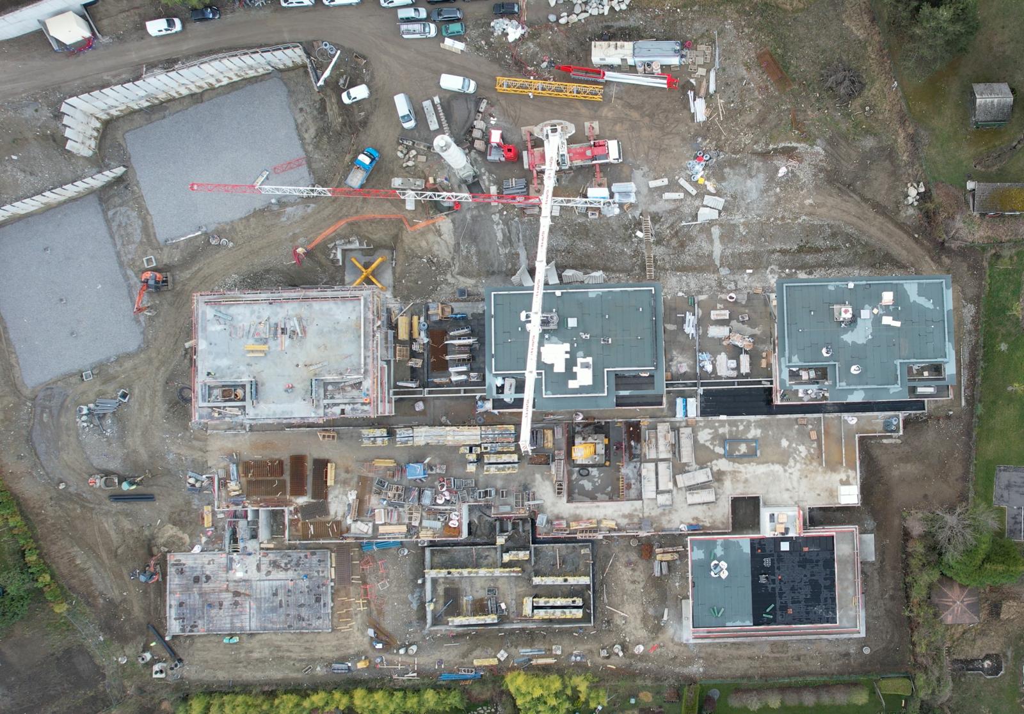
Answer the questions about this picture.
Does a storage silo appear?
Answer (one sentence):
Yes, I can see a storage silo in this picture.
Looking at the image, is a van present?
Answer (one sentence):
Yes, there is a van in the image.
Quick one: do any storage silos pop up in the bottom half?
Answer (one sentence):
No, I can find no storage silo in the bottom half.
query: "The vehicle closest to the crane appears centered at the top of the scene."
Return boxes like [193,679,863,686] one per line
[483,123,519,160]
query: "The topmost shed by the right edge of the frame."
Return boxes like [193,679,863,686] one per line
[973,75,1021,118]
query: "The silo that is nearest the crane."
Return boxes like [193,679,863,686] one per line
[434,134,483,192]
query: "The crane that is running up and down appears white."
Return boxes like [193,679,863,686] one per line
[509,118,623,458]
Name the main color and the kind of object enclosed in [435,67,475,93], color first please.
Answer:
white vehicle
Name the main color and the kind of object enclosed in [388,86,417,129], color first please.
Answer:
white van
